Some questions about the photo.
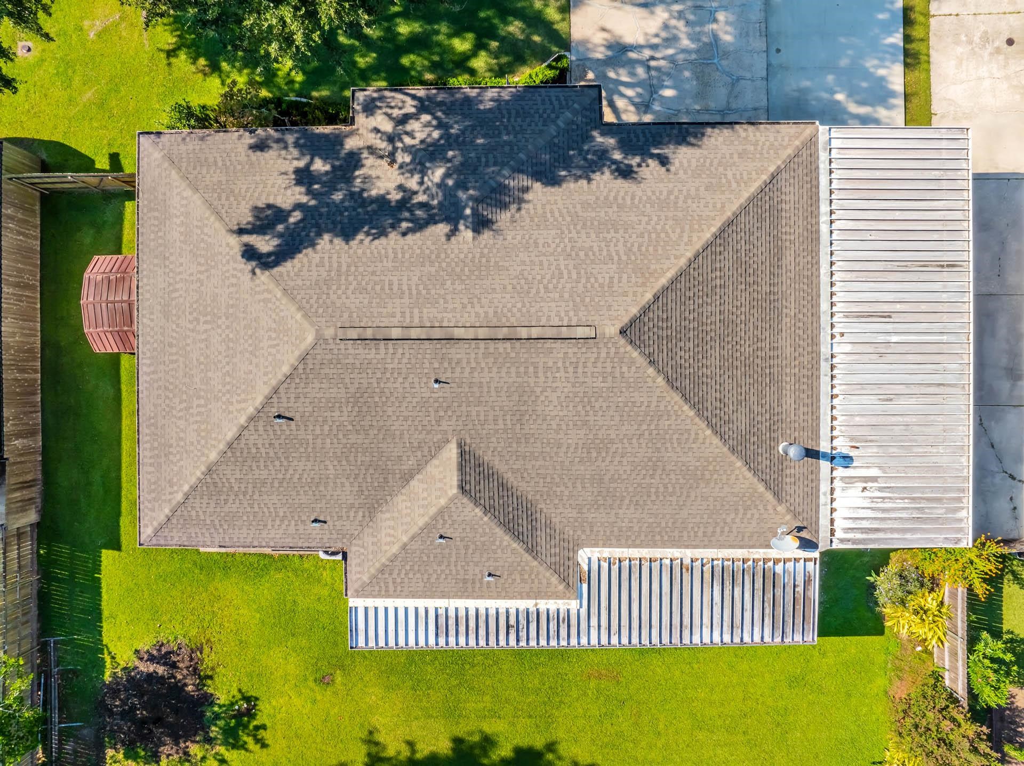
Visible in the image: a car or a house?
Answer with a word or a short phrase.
house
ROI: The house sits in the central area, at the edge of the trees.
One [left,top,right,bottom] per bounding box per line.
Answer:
[134,85,821,601]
